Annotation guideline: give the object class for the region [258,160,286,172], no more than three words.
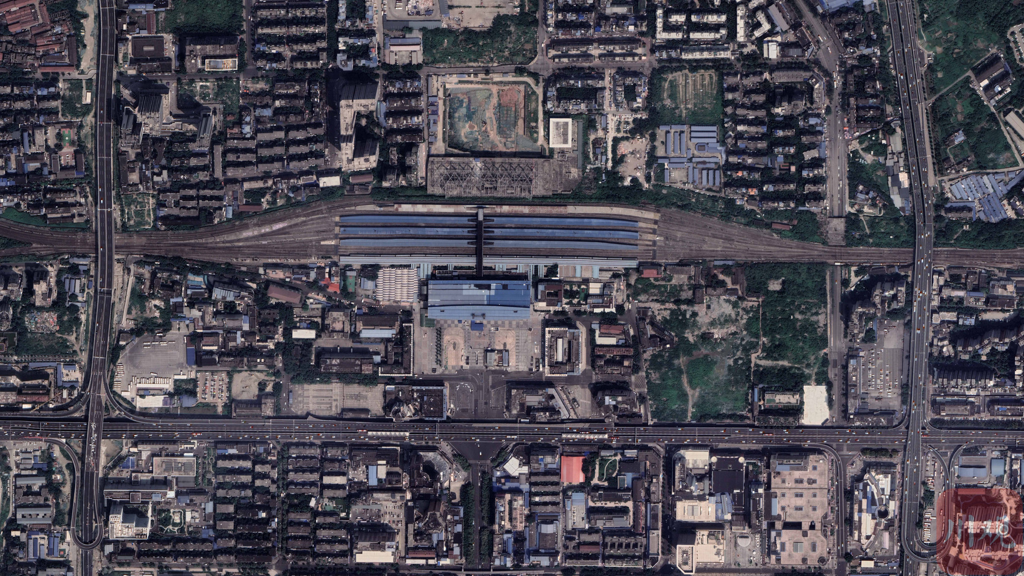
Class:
building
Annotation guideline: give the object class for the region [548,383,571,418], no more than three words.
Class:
building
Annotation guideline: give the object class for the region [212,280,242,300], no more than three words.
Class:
shed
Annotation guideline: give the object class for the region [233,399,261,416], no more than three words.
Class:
shed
